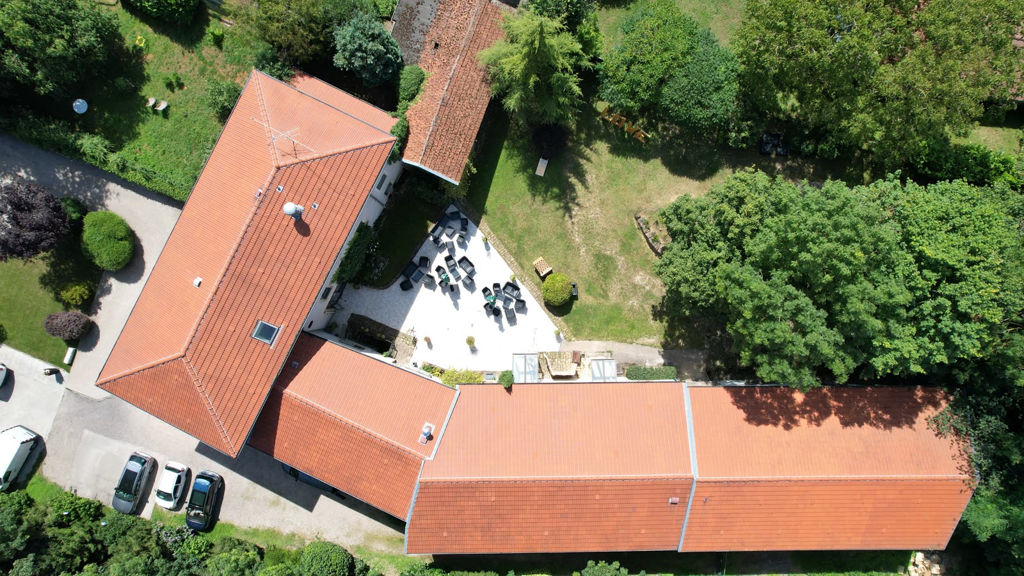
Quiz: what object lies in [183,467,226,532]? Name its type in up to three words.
car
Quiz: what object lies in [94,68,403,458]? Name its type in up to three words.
house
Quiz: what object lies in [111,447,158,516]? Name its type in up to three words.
car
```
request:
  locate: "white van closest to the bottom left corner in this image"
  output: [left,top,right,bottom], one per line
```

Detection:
[0,426,39,501]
